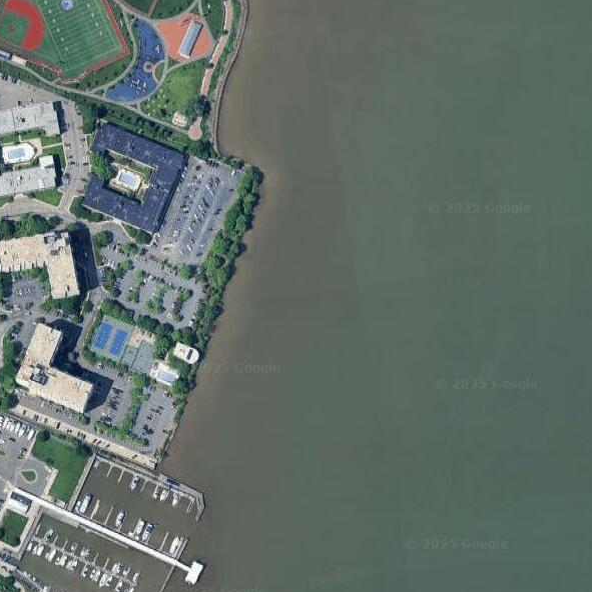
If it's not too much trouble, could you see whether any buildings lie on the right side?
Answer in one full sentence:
No, there's no building to be seen on the right side.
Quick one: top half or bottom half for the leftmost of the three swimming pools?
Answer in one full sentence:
The leftmost of the three swimming pools is in the top half of the image.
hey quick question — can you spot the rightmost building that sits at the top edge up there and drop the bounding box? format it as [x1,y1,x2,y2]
[180,21,203,57]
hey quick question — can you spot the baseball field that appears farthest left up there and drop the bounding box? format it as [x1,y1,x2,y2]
[0,0,45,53]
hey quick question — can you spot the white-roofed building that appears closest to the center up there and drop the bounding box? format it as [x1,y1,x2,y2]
[174,343,199,364]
